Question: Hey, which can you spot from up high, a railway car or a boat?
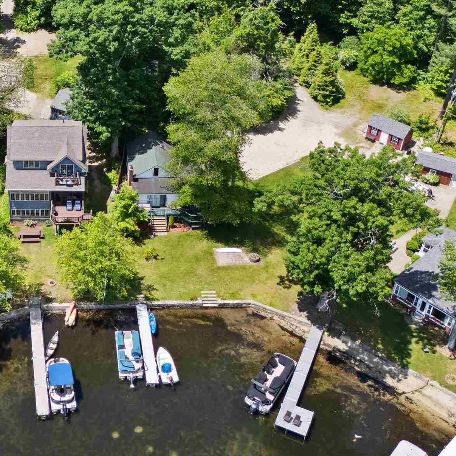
boat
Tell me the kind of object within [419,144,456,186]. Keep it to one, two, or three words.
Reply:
shed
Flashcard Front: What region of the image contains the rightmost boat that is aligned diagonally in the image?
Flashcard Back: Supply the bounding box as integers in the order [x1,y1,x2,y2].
[243,352,297,419]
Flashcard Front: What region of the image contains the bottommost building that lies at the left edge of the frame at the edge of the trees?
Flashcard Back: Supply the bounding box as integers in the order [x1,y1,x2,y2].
[6,115,93,236]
